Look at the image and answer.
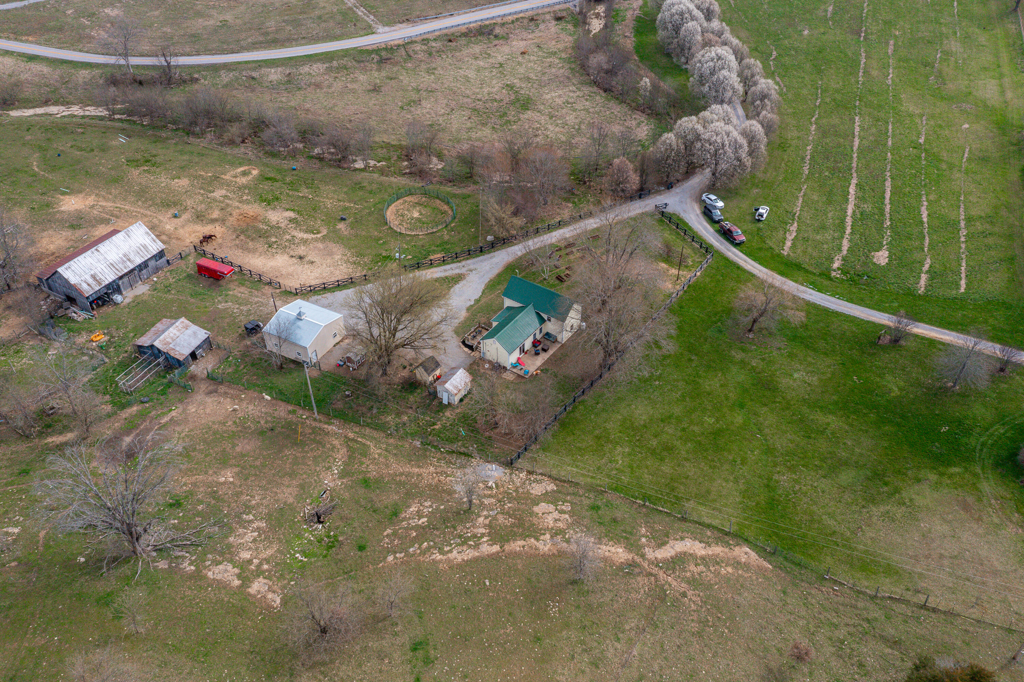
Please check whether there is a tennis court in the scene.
No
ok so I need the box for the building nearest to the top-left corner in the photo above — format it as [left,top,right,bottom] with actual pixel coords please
[33,221,169,313]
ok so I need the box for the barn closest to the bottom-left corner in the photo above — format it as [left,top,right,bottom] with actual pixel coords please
[132,317,212,370]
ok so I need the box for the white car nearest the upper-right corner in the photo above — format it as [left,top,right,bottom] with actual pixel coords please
[752,205,770,220]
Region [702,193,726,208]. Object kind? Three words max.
car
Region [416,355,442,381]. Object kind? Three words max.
shed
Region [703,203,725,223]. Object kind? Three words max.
car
